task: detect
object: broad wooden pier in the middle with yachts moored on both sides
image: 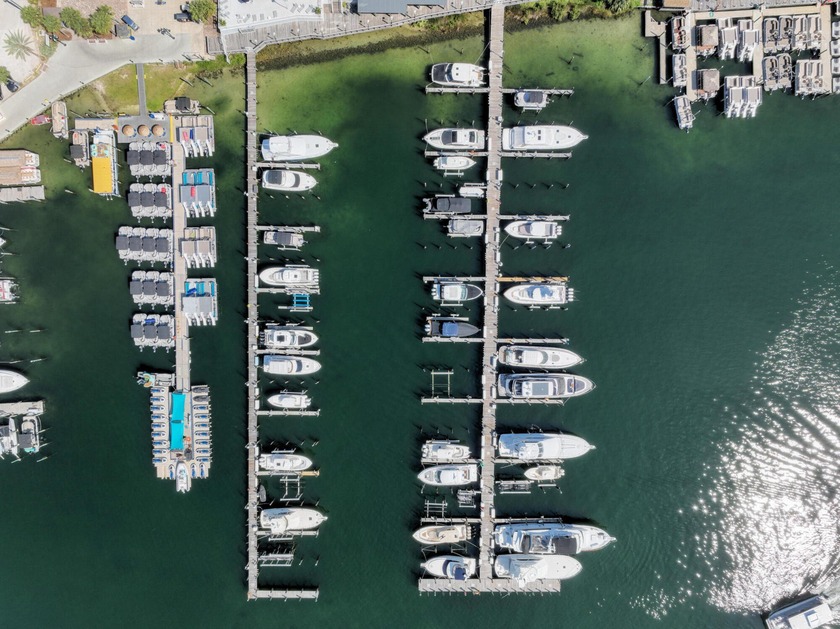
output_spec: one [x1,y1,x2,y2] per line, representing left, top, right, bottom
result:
[418,6,574,595]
